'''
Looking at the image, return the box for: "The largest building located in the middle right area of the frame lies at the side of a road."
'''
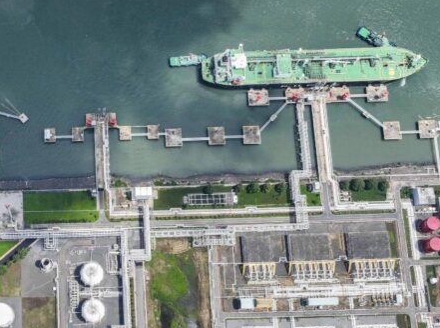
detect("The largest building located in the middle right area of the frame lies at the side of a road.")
[413,187,437,206]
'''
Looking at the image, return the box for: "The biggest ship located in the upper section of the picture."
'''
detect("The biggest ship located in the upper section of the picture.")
[201,44,429,88]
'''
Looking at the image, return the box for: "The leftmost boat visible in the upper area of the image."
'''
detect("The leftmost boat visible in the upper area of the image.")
[169,55,203,69]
